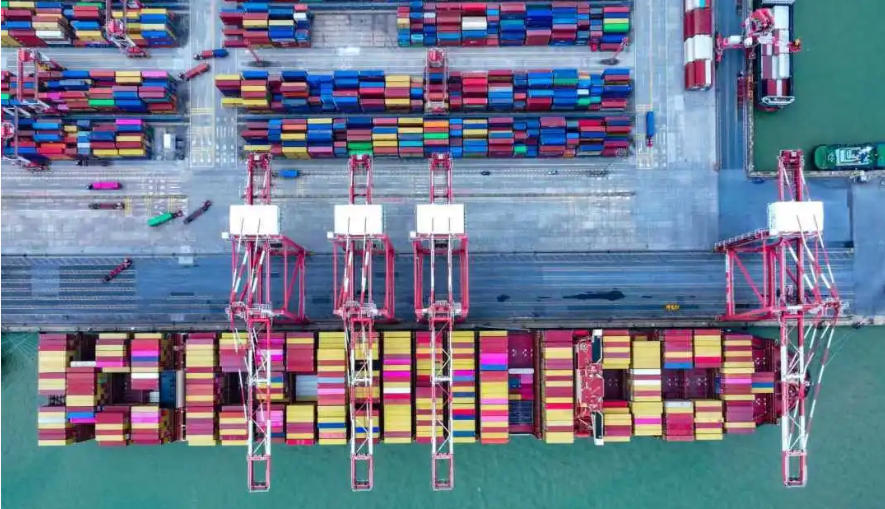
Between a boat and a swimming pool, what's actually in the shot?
boat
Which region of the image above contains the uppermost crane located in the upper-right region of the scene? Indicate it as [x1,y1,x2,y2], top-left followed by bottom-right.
[716,9,800,60]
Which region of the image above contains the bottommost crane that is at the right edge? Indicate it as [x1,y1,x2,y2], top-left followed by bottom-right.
[714,152,849,492]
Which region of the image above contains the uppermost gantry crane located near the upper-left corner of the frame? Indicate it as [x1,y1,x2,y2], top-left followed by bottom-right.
[103,0,150,53]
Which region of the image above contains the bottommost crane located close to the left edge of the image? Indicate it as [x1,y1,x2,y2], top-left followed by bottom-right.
[0,99,46,165]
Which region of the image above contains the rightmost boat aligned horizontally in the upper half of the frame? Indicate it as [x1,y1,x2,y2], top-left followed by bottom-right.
[812,145,874,170]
